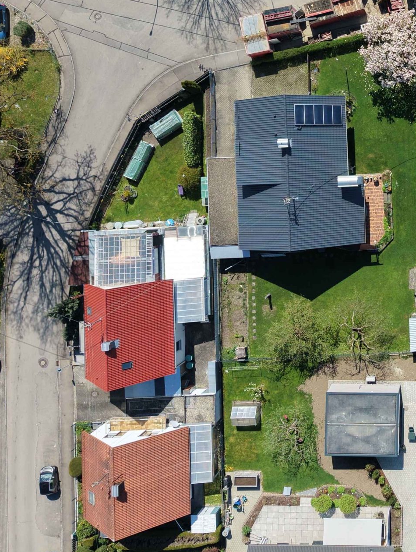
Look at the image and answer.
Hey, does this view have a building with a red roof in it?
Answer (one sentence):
Yes, looking at the shot, I can spot a building with a red roof.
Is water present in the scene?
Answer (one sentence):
No, there is no water in the image.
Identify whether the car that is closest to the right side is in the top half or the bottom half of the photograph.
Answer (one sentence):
The car that is closest to the right side sits in the bottom half of the picture.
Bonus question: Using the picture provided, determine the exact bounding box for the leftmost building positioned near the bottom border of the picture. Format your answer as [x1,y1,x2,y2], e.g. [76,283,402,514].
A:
[81,414,200,541]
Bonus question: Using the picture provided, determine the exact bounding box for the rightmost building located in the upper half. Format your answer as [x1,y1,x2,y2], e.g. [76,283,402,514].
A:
[233,94,368,252]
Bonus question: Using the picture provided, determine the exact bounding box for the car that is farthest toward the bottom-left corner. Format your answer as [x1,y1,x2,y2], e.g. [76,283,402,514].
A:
[39,467,61,495]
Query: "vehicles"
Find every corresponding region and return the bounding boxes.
[0,3,11,43]
[39,467,61,495]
